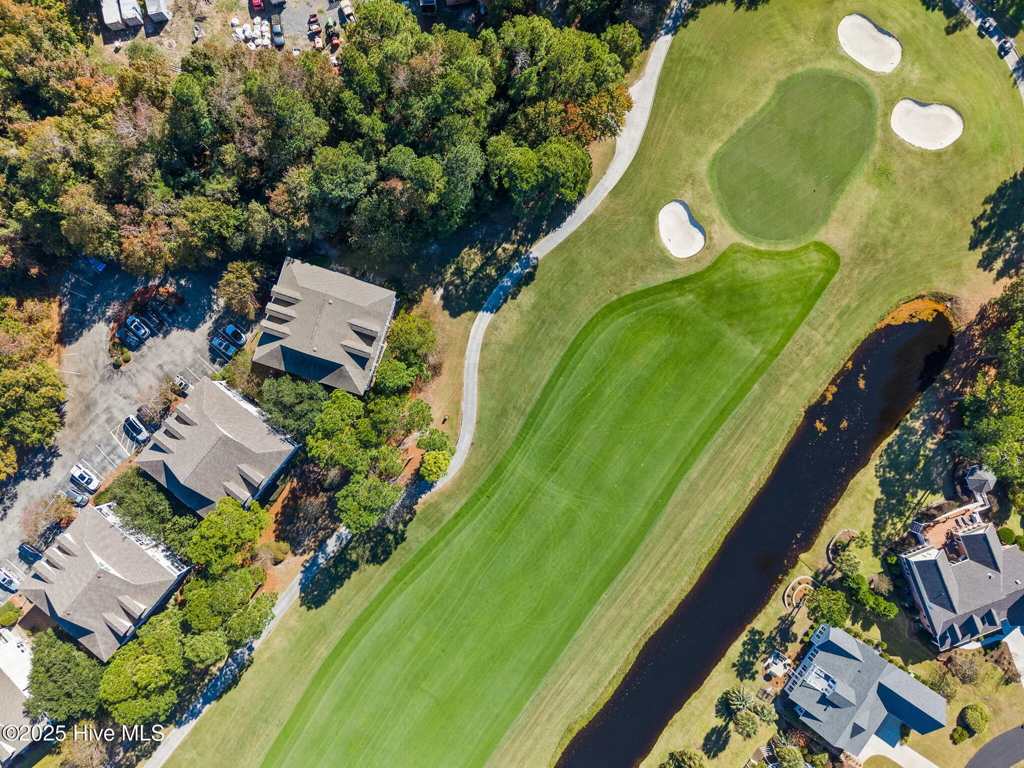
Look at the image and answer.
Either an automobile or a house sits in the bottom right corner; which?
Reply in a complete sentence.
The feature located in the bottom right corner is a house.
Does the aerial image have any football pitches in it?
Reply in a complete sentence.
No, the photo shows no football pitch.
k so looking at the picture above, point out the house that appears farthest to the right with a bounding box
[898,522,1024,651]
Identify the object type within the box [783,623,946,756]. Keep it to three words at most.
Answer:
house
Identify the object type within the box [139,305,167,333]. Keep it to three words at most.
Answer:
car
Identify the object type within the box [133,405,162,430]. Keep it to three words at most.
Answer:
car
